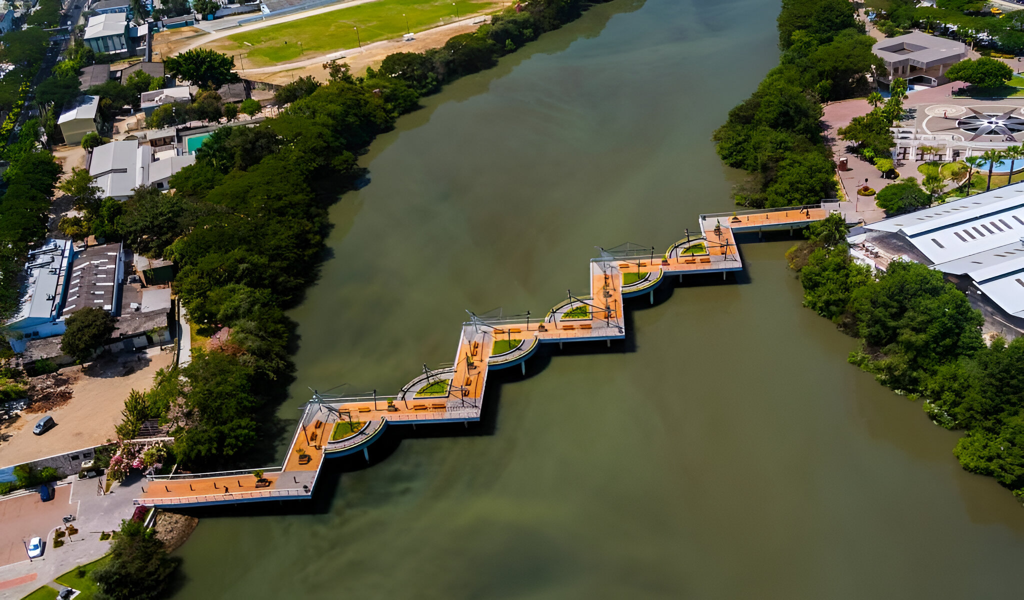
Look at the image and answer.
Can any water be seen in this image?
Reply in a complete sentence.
Yes, water can be seen from above here.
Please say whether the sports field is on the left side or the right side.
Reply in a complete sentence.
You can find the sports field on the left side of the picture.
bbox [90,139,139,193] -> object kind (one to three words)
building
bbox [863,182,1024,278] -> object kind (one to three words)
building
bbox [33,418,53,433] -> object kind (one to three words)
car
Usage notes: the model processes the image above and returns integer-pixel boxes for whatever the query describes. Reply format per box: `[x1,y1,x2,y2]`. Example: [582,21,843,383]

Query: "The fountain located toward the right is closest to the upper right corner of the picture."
[953,107,1024,142]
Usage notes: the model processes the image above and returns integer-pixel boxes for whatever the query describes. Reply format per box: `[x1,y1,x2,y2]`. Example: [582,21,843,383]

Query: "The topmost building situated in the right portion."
[872,31,964,91]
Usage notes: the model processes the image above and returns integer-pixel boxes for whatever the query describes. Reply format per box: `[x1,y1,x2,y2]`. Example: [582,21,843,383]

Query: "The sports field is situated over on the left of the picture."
[150,0,527,94]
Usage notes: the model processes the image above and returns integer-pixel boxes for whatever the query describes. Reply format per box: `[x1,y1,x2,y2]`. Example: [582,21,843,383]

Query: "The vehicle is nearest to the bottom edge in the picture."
[27,538,42,558]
